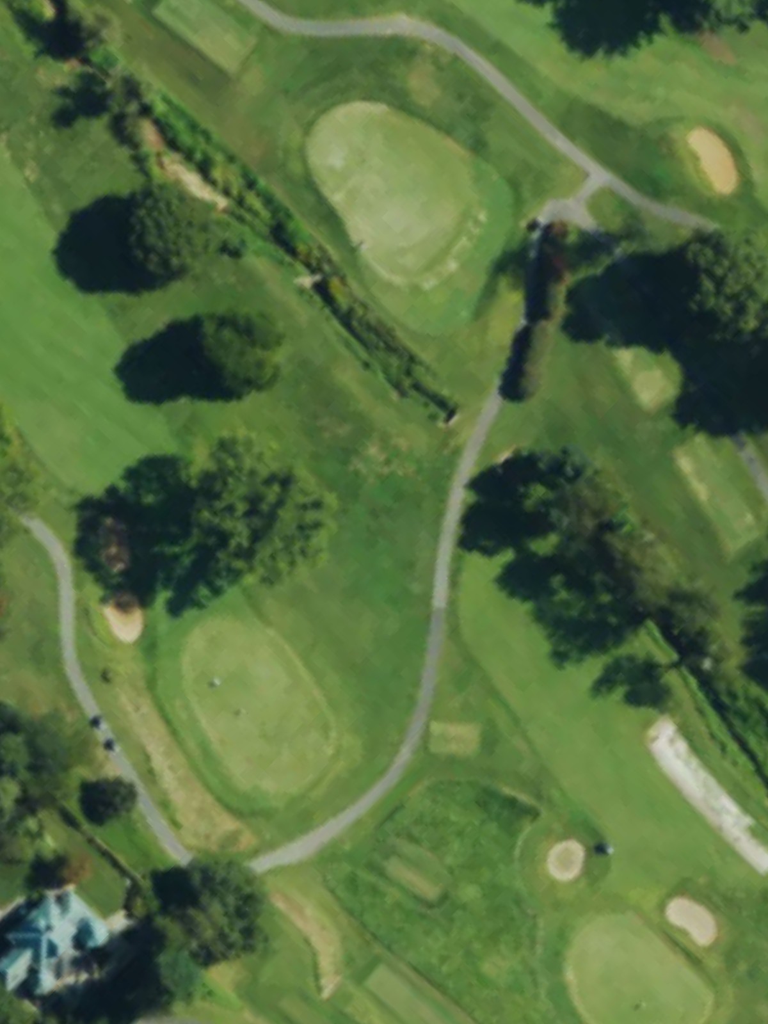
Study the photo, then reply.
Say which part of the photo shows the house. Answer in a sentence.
The house appears toward the bottom left of the photo.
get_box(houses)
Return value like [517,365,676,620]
[0,890,107,994]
